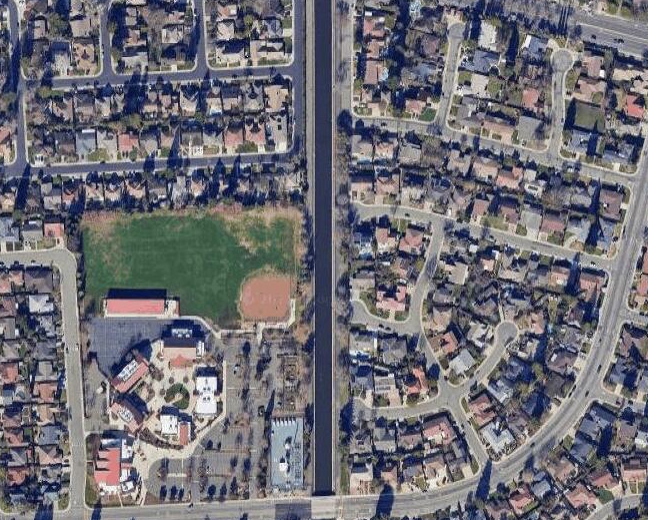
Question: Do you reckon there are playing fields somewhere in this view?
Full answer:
Yes, you can see a playing field in this photo.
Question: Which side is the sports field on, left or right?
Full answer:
The sports field is on the left side of the image.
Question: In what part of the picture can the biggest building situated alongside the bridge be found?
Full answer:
The biggest building situated alongside the bridge is in the bottom part of the image.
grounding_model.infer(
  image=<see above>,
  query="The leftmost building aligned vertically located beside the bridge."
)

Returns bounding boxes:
[272,418,304,490]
